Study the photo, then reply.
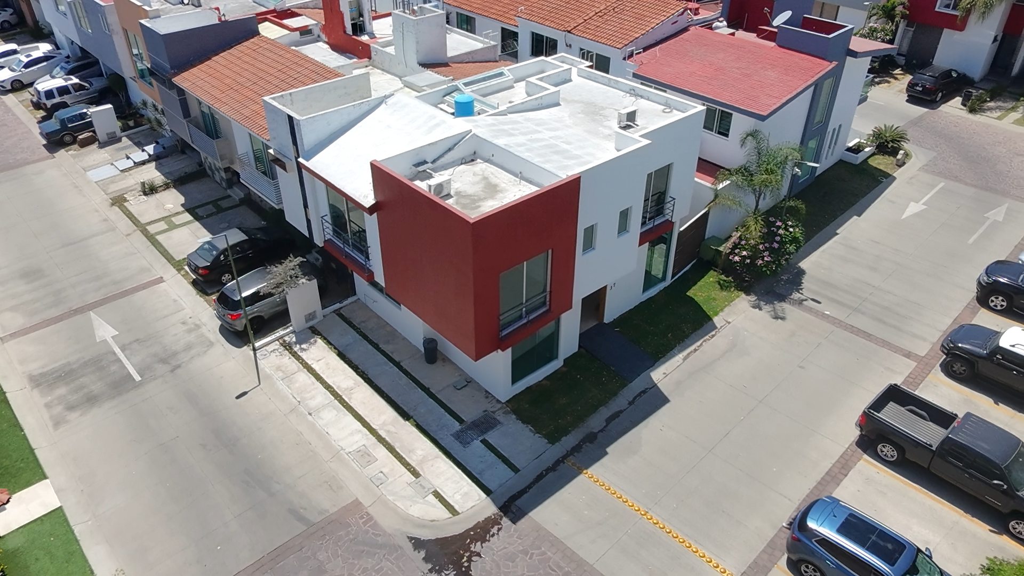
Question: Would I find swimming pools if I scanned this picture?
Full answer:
No, there's no swimming pool here.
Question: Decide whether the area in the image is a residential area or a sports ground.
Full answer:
This image shows a residential area.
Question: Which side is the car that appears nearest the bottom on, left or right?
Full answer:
The car that appears nearest the bottom appears in the right half of the scene.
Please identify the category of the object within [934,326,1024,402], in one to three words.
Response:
car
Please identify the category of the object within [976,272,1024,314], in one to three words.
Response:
car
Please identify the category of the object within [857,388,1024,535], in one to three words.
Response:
truck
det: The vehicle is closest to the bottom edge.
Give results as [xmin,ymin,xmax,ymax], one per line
[781,492,943,576]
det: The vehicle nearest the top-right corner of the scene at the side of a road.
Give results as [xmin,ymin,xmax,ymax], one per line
[909,65,960,103]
